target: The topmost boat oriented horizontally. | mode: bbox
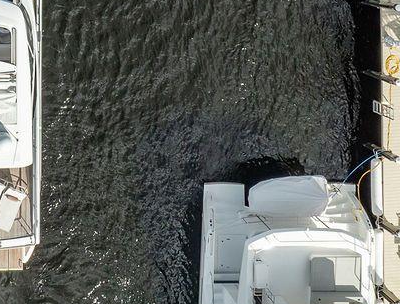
[246,173,342,216]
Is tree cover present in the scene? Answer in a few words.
No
